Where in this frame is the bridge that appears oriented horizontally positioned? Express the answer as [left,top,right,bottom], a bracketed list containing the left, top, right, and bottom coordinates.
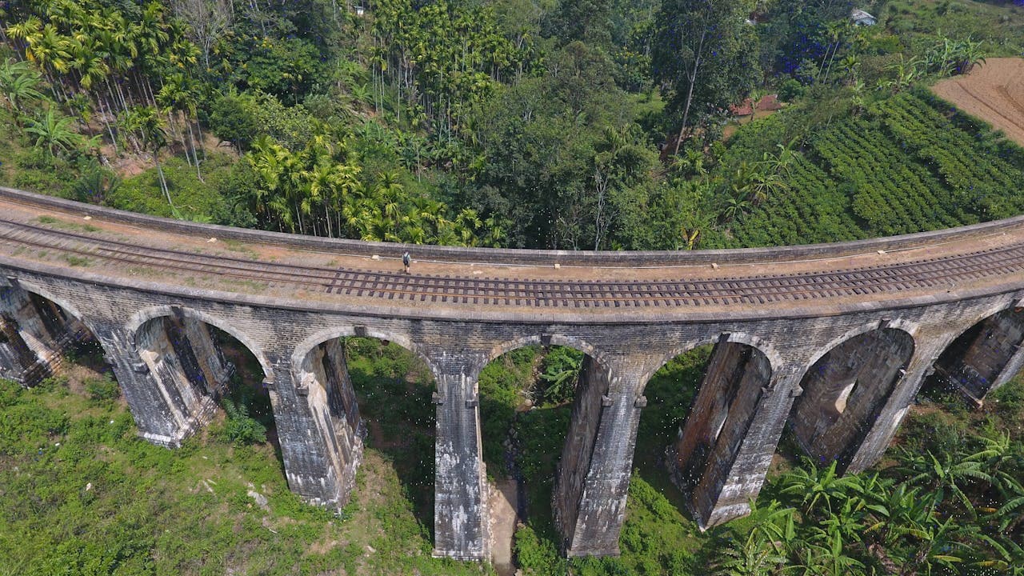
[0,187,1024,573]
